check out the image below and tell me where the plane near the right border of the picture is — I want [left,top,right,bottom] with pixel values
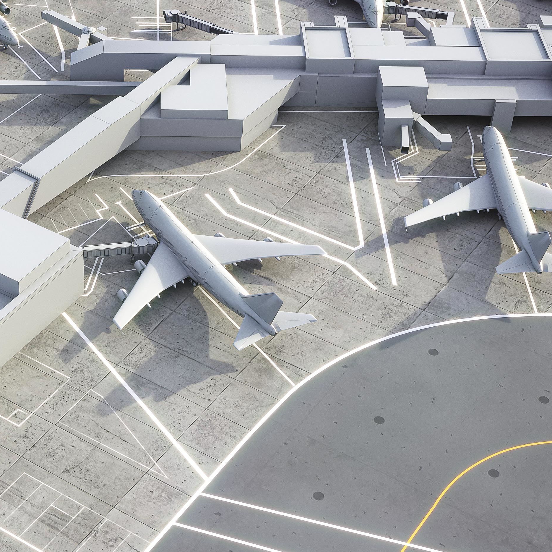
[405,124,552,274]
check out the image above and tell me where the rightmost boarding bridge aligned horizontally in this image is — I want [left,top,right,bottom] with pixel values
[382,0,457,27]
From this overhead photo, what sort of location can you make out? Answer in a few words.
airport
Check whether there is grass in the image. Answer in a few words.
No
